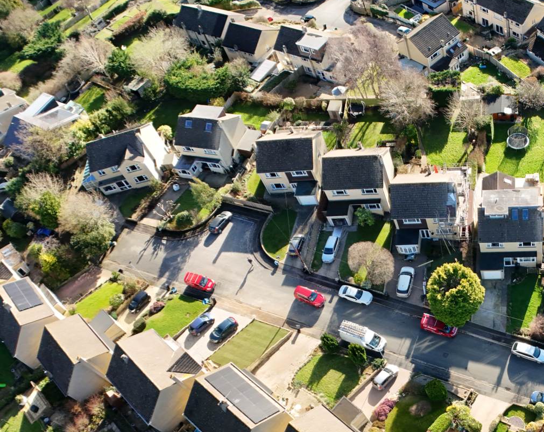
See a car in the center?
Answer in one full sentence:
Yes, a car is visible in the center.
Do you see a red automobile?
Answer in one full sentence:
Yes, a red automobile appears in the view.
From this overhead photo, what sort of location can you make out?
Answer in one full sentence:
This image shows a residential area.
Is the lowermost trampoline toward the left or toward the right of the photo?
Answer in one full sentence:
It is on the right.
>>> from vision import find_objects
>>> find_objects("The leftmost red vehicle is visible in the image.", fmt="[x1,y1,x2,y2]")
[180,268,218,293]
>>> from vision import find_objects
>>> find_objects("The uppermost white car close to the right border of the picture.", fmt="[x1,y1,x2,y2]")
[510,340,544,364]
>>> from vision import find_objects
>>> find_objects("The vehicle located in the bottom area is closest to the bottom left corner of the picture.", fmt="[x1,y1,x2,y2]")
[128,292,151,314]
